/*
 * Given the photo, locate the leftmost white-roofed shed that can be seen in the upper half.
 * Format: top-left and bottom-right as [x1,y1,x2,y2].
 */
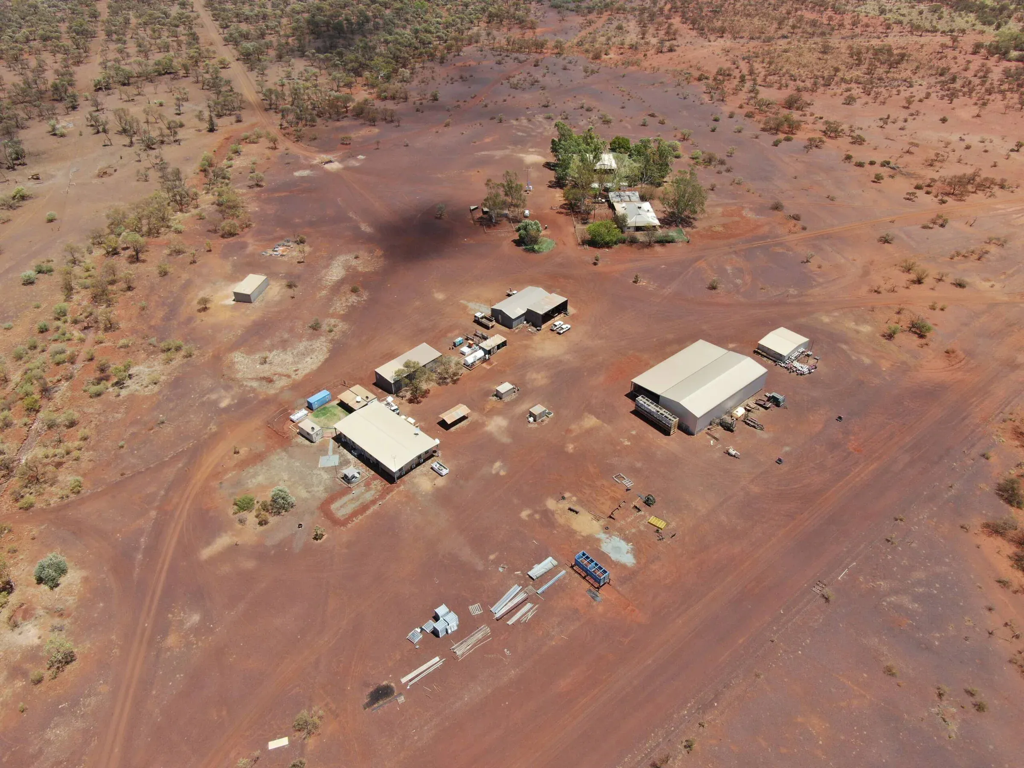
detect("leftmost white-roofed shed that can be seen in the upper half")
[231,279,267,306]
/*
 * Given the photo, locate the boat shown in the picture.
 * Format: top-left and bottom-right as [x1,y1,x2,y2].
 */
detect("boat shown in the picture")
[433,462,450,476]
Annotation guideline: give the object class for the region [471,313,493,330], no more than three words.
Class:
vehicle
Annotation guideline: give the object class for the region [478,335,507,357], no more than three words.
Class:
shed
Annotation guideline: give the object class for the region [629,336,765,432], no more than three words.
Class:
shed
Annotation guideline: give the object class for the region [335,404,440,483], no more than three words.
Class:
building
